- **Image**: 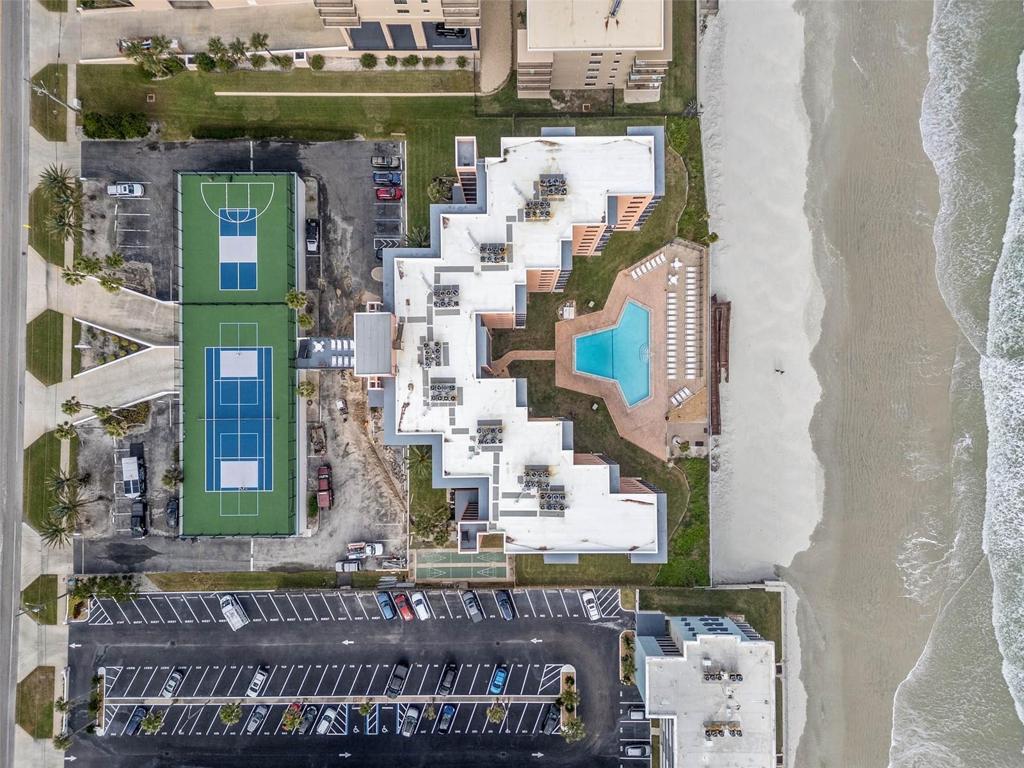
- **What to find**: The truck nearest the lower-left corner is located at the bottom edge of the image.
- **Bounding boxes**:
[124,703,148,738]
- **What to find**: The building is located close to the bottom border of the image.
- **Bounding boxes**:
[633,608,775,768]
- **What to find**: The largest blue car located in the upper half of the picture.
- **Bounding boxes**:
[374,171,402,185]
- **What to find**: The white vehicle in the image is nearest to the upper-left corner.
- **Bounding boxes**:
[104,182,145,198]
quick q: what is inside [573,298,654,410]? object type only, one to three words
swimming pool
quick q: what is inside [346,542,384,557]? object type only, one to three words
vehicle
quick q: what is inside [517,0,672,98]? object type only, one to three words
building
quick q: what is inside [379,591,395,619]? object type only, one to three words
car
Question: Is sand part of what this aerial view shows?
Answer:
Yes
